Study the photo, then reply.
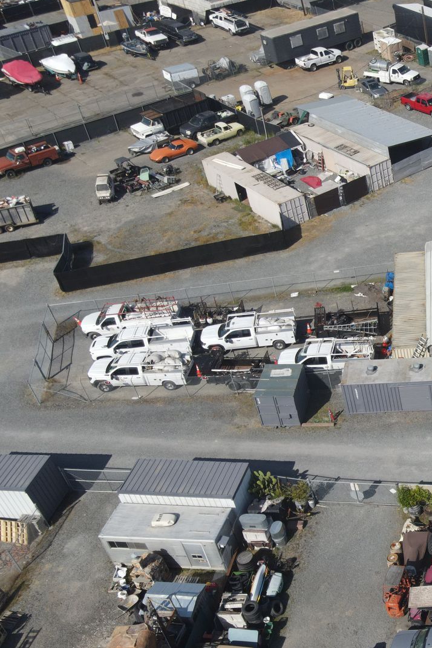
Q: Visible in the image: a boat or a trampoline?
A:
boat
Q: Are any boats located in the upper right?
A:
No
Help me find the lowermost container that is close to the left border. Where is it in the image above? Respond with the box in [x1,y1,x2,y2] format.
[0,20,58,59]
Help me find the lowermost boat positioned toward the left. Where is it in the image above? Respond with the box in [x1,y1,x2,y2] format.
[122,129,177,159]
